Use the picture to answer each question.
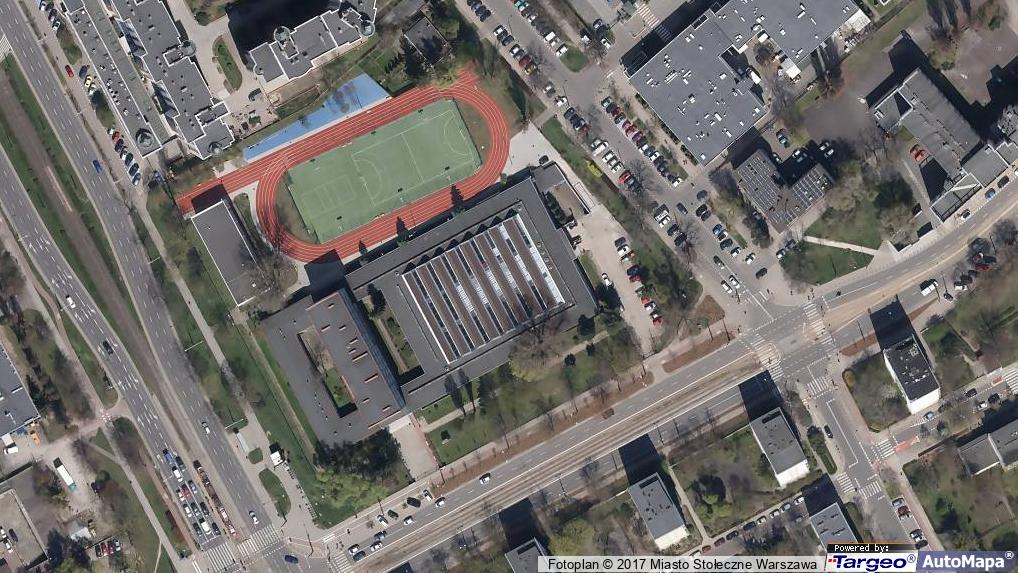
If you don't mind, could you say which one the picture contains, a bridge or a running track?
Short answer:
running track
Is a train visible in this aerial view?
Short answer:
Yes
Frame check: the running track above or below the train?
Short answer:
above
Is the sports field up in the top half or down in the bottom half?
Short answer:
top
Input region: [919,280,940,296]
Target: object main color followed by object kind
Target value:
white vehicle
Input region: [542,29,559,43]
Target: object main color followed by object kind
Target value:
white vehicle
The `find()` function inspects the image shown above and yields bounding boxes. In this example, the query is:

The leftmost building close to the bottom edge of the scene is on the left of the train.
[0,466,64,554]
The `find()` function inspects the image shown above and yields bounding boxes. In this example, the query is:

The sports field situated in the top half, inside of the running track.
[288,98,481,243]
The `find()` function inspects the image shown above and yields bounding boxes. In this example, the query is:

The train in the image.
[195,461,242,541]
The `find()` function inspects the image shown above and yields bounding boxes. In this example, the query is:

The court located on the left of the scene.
[244,74,390,161]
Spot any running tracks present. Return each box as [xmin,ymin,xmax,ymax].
[177,69,510,265]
